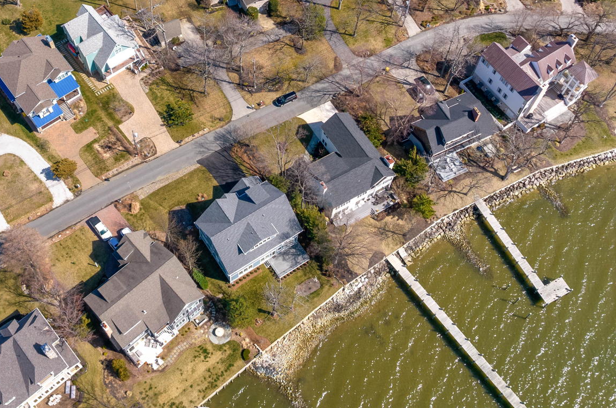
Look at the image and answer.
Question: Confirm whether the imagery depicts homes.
Yes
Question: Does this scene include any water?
Yes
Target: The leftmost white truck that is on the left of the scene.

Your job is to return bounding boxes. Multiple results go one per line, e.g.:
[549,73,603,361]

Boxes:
[85,215,113,241]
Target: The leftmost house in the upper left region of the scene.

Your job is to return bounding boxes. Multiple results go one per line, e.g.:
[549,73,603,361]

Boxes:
[0,32,83,136]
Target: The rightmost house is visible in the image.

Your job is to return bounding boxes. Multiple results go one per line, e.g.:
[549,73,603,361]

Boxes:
[477,32,598,137]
